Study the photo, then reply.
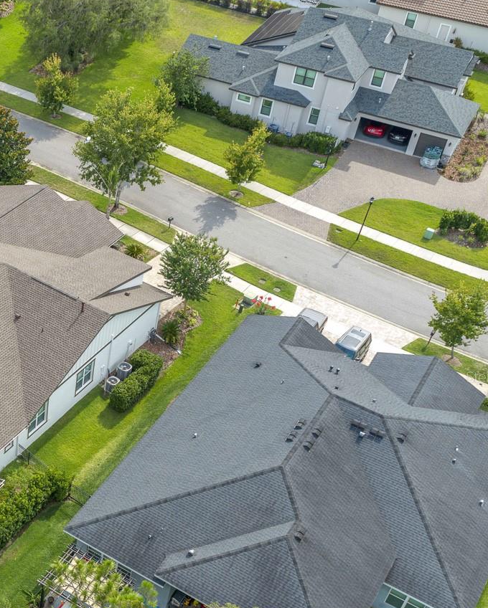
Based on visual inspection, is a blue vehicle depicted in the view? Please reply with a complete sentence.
No, there's no blue vehicle here.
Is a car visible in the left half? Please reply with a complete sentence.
No, no car can be made out in the left half.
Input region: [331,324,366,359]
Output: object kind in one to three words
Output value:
car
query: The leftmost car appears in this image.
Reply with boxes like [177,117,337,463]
[282,297,317,325]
